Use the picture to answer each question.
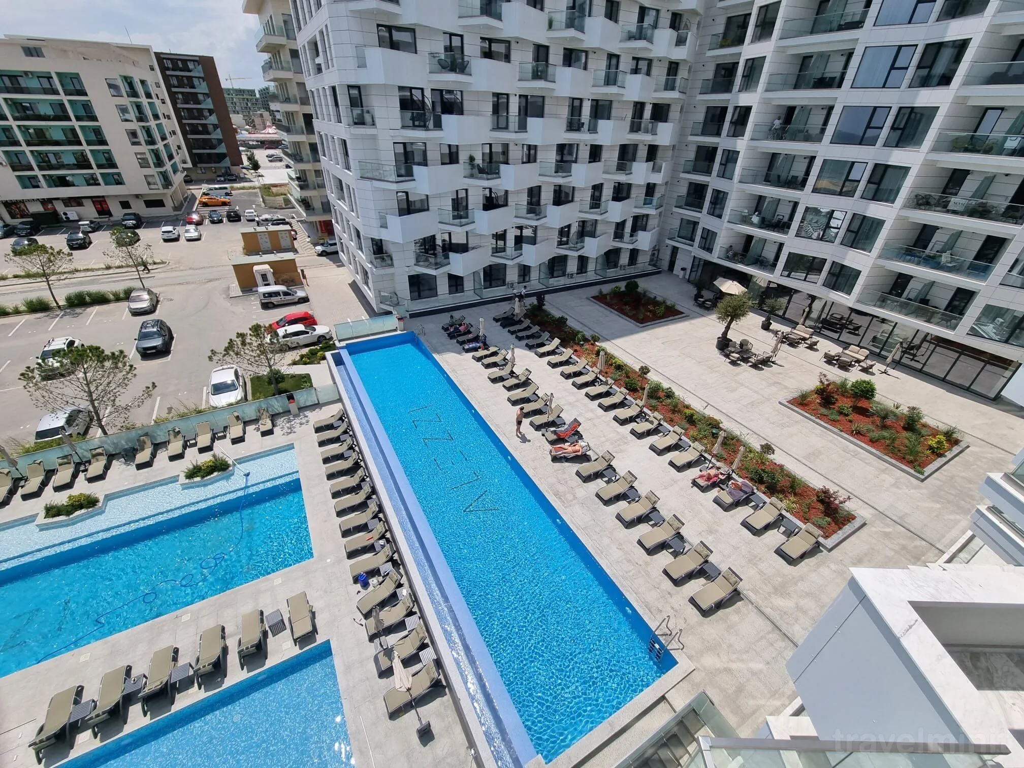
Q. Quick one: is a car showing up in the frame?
Yes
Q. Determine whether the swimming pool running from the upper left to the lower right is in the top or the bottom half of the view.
bottom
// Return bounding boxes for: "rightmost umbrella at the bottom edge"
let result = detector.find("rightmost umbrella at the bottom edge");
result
[411,694,433,742]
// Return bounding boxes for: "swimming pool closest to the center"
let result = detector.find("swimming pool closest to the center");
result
[347,333,675,764]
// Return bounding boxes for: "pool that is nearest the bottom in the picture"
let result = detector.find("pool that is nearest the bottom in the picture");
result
[105,654,355,768]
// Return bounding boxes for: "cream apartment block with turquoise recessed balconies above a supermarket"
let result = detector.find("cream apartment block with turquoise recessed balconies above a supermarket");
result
[0,5,195,224]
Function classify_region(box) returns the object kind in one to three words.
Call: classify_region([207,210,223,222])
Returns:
vehicle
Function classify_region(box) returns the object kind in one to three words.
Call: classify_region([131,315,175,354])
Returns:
car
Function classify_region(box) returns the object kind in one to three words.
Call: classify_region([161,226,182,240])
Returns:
car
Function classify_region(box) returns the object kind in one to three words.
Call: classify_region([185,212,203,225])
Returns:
vehicle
